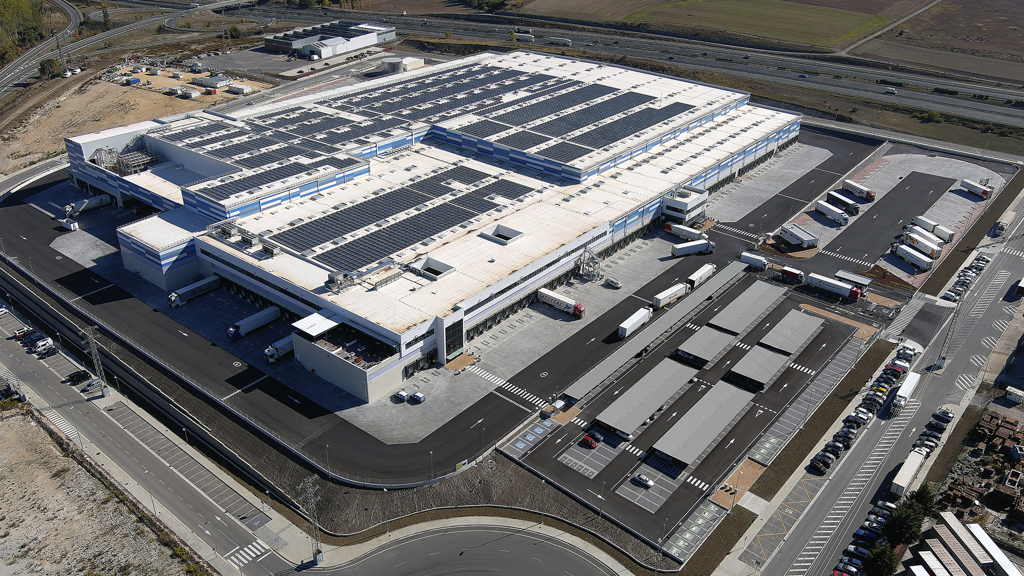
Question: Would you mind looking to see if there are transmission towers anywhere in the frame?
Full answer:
Yes, there is a transmission tower in the image.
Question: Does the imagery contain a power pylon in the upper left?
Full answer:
Yes, looking in the upper left, one can make out a power pylon.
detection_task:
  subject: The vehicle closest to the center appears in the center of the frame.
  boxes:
[536,288,587,322]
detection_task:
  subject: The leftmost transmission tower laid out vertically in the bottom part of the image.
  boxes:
[74,301,117,398]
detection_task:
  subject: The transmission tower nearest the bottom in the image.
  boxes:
[291,462,329,568]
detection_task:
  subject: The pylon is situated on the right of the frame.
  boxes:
[929,274,976,371]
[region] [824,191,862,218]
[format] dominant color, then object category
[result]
black truck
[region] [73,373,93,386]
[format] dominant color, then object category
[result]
black vehicle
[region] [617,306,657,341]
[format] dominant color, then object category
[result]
white truck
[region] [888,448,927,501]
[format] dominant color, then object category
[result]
white truck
